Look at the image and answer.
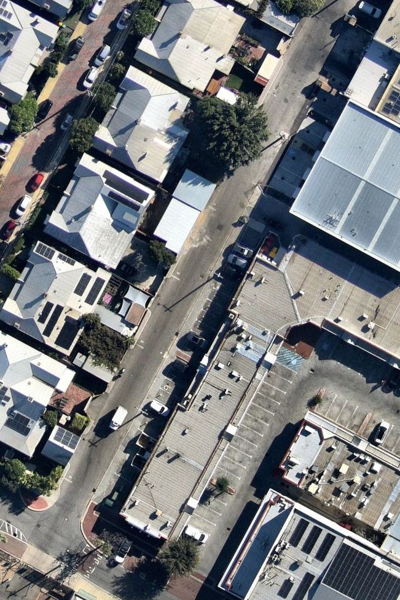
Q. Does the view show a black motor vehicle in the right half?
Yes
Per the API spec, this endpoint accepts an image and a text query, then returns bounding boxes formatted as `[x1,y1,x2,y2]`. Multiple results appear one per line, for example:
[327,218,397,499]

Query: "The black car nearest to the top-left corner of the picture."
[69,33,85,58]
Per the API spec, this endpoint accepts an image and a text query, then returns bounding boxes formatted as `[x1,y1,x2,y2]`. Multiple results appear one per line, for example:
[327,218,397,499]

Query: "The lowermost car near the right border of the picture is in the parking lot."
[373,421,391,444]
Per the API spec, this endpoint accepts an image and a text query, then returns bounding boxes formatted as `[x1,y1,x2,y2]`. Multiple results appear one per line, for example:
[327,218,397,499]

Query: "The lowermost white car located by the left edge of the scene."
[14,194,32,218]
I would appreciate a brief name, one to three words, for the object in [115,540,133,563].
car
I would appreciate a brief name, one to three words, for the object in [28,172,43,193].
car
